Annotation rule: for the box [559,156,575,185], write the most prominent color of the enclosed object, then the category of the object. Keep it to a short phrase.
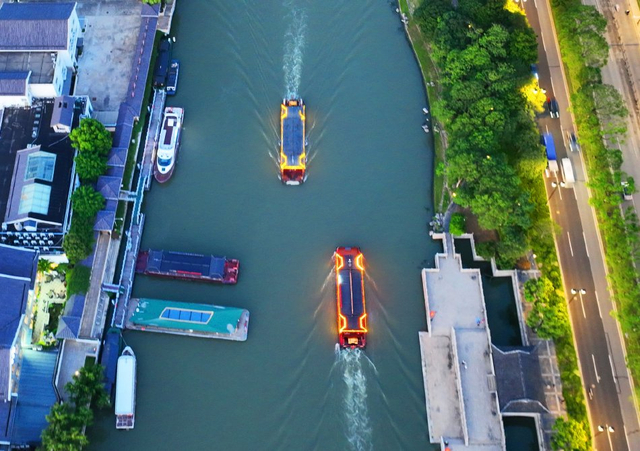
white vehicle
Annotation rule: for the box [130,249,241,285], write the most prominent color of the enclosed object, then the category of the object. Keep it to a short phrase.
blue boat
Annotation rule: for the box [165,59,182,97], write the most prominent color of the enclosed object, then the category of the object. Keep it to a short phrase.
blue boat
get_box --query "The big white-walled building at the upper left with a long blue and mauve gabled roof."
[0,1,89,68]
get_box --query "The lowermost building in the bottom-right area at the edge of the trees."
[492,341,552,414]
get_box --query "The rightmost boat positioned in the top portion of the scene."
[278,97,306,184]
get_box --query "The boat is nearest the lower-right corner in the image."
[335,242,369,350]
